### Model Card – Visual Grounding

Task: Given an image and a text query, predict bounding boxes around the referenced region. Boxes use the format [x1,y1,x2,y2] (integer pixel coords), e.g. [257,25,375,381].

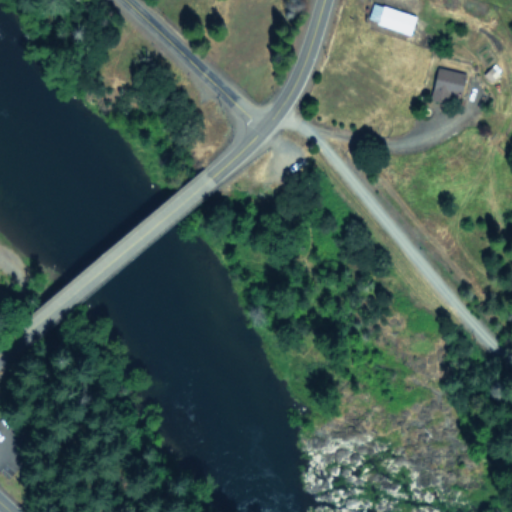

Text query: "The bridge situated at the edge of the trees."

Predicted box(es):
[28,171,218,336]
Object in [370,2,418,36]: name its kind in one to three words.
barn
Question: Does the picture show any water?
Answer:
Yes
